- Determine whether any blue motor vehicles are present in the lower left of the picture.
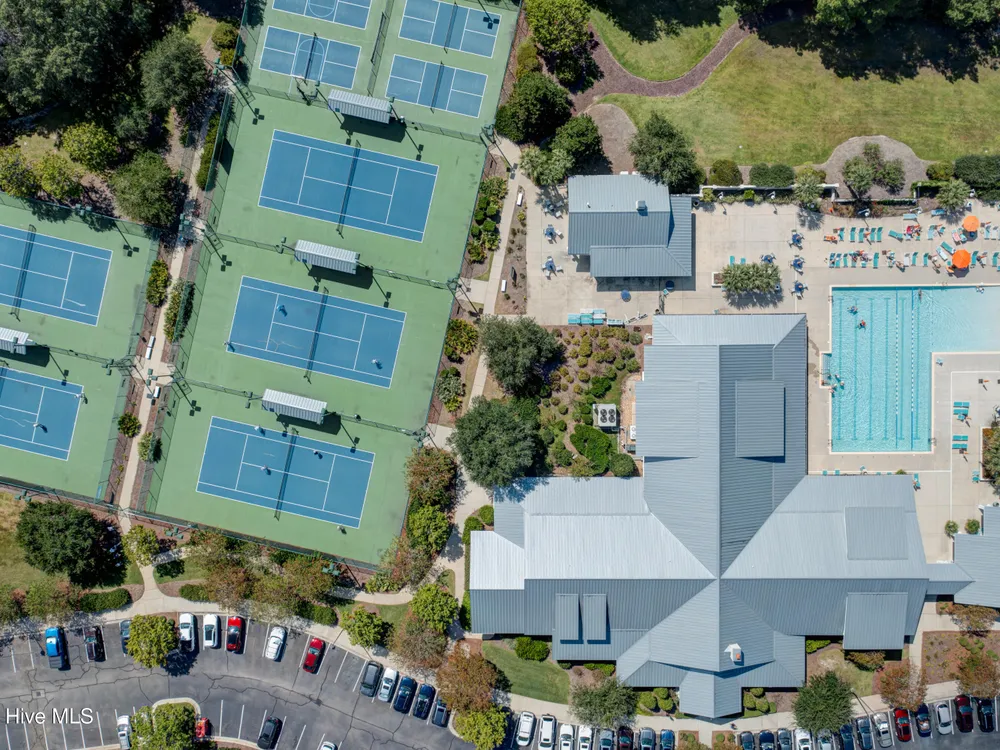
Yes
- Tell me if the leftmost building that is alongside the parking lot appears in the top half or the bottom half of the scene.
bottom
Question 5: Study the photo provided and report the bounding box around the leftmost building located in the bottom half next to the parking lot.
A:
[471,314,929,719]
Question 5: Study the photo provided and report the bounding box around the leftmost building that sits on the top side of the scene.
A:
[569,164,691,276]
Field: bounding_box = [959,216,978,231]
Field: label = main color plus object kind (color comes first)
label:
orange umbrella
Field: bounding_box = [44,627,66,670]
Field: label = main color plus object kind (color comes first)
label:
blue vehicle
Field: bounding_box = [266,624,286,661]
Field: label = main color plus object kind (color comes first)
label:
white car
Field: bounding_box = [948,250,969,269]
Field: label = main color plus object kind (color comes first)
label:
orange umbrella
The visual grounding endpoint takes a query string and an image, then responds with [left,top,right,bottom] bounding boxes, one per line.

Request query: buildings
[471,314,929,719]
[569,164,691,276]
